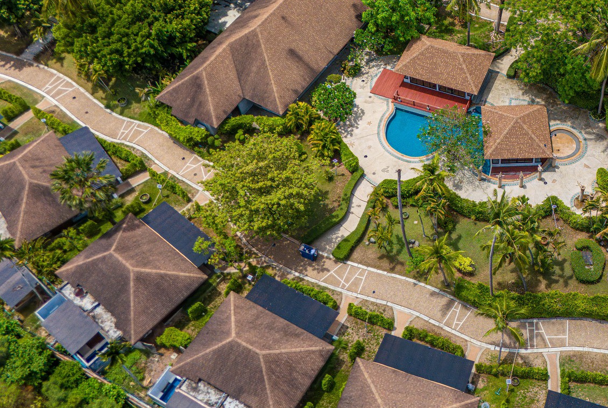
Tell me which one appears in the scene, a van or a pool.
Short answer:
pool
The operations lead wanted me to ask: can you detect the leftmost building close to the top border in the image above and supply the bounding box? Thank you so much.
[155,0,373,132]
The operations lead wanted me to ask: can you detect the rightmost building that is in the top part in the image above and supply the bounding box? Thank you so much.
[480,104,552,181]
